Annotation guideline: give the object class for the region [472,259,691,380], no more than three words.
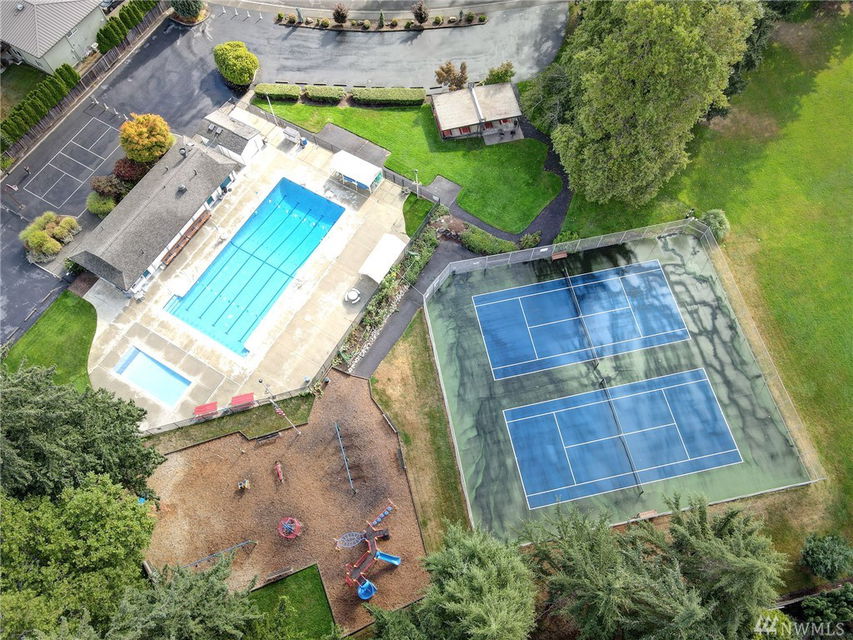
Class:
tennis court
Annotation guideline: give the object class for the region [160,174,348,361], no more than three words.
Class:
swimming pool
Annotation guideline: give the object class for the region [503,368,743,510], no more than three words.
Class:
tennis court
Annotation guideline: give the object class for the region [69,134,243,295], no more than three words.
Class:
building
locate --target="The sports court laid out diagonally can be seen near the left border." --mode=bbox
[17,112,122,212]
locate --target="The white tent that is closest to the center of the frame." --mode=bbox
[358,234,407,289]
